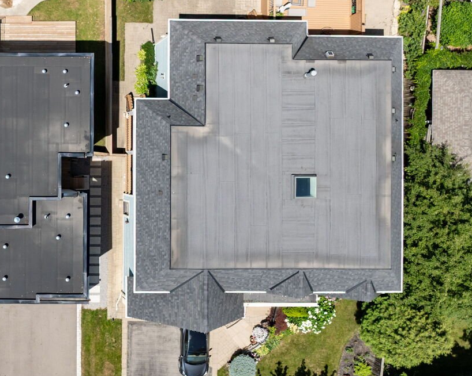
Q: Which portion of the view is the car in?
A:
bottom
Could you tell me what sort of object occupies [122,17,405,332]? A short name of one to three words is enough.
house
